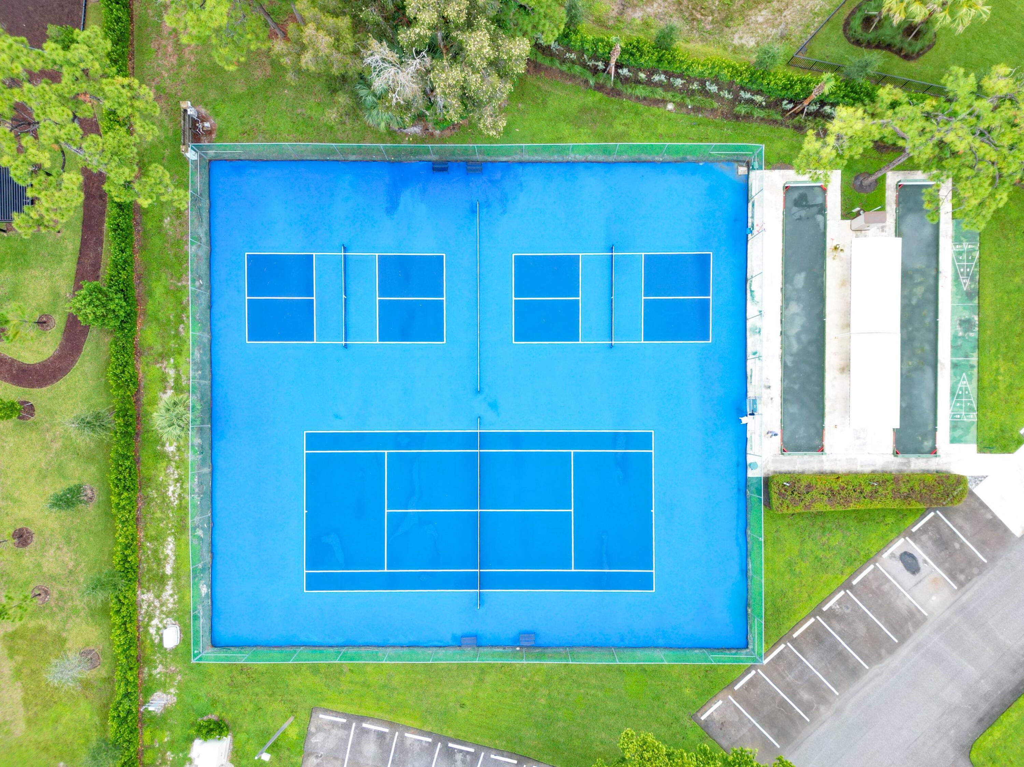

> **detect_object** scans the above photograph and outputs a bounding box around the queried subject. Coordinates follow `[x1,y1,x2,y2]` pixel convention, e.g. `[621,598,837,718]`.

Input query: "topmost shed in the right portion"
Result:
[851,211,888,230]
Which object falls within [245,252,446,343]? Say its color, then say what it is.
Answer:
blue sports court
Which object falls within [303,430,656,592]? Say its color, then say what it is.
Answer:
blue tennis court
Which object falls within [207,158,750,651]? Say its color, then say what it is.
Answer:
blue sports court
